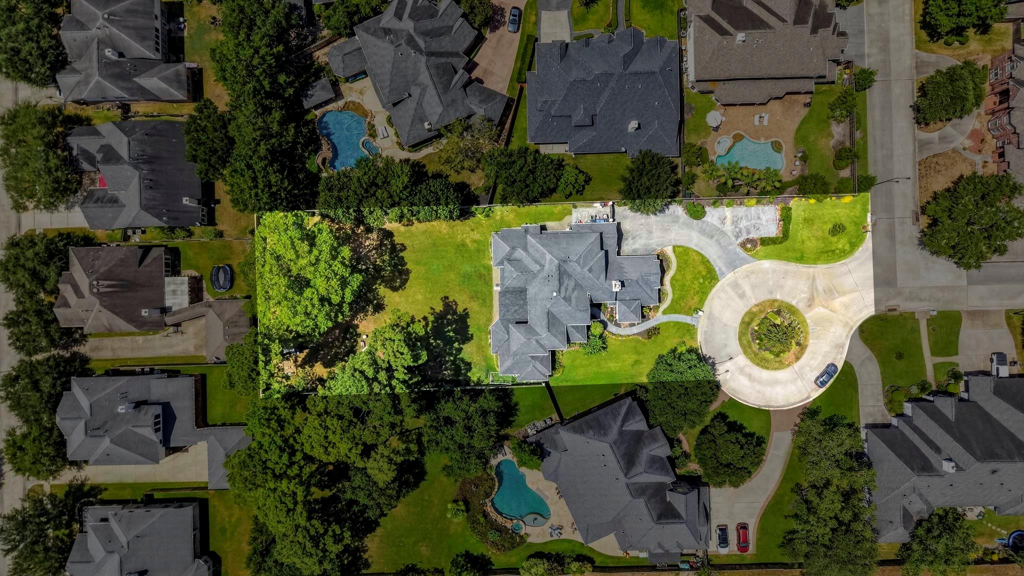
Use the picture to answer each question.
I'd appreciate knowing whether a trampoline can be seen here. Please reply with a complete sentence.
Yes, the photo shows a trampoline.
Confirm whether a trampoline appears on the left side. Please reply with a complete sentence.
Yes, there is a trampoline on the left side.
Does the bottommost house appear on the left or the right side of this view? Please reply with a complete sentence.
It is on the left.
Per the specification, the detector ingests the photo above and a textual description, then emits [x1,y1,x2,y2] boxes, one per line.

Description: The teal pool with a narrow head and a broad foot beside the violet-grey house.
[490,458,552,521]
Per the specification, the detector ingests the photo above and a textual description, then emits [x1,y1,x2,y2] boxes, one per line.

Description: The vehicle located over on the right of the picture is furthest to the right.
[994,349,1012,375]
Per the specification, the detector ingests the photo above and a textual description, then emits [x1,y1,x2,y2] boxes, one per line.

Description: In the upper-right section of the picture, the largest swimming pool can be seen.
[713,130,787,174]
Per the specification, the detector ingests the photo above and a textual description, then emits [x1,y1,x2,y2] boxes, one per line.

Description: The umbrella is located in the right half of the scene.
[706,111,723,128]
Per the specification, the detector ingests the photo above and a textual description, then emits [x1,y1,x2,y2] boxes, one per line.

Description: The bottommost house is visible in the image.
[48,498,213,576]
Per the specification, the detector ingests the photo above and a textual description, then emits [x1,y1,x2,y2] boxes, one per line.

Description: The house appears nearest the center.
[491,222,664,382]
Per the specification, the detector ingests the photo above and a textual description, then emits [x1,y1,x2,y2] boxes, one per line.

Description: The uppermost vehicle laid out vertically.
[507,2,521,33]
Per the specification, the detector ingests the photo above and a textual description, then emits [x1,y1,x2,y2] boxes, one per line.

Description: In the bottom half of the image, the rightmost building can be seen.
[861,375,1024,543]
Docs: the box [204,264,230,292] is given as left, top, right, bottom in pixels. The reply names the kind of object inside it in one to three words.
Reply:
trampoline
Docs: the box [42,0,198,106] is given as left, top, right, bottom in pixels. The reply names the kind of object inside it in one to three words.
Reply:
house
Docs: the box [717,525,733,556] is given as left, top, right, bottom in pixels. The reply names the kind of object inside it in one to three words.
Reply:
car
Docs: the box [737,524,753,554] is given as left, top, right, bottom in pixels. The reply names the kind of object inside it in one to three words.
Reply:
car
